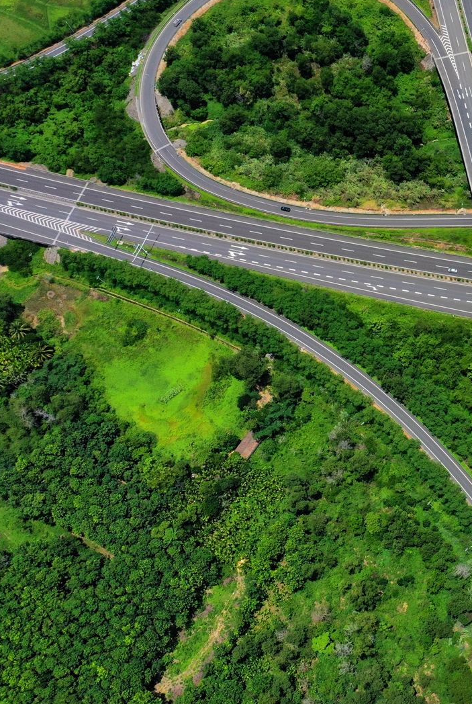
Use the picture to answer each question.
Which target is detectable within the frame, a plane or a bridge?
bridge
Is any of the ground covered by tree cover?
Yes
